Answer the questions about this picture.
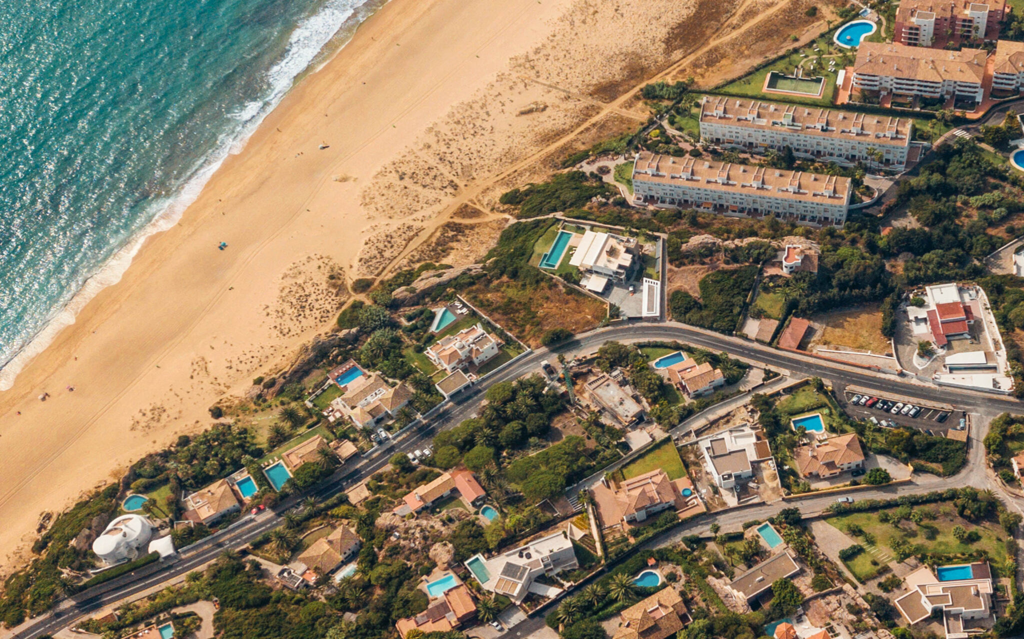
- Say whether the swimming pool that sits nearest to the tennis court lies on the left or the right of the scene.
right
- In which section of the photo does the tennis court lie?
top right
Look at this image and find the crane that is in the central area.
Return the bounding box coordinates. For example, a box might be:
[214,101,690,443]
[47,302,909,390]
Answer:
[541,319,604,411]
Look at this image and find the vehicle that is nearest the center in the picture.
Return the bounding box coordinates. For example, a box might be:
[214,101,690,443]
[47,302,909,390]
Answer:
[539,356,558,380]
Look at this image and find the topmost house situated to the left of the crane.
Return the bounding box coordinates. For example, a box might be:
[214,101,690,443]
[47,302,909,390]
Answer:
[424,323,504,374]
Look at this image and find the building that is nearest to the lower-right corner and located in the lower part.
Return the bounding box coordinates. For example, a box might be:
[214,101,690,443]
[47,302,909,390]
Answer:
[893,579,992,639]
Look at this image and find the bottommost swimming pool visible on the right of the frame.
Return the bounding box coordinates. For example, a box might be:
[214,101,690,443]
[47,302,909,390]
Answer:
[756,618,792,639]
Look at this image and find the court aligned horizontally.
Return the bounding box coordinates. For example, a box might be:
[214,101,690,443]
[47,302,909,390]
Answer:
[767,71,822,92]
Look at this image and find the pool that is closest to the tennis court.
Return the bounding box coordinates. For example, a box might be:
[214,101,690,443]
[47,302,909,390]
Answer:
[835,20,876,48]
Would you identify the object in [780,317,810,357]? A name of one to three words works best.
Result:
shed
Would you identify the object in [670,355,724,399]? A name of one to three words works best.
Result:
house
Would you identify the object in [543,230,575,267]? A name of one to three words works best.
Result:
swimming pool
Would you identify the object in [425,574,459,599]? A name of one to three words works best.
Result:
swimming pool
